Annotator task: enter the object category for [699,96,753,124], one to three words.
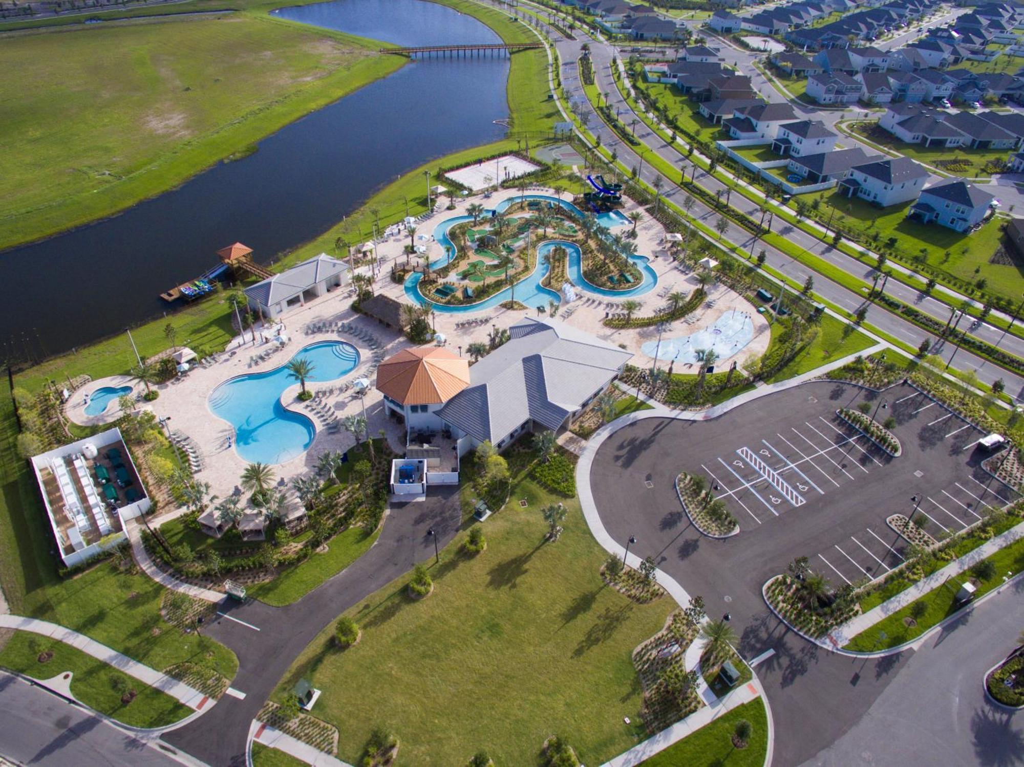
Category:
house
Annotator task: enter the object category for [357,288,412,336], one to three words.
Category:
shed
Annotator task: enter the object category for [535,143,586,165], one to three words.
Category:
basketball court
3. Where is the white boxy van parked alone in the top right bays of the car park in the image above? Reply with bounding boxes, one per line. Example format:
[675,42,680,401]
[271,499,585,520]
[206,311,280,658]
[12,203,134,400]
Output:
[978,430,1011,454]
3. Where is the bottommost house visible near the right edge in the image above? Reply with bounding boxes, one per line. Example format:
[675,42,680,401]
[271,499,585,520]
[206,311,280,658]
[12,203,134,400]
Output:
[988,215,1024,255]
